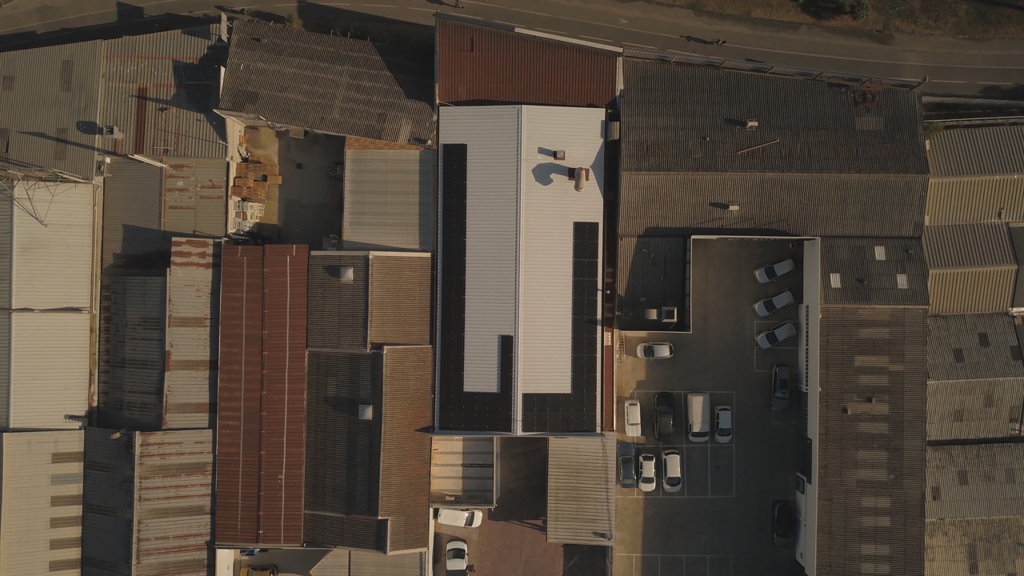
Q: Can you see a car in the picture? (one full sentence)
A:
Yes, the photo shows a car.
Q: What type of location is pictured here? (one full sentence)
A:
This image shows an industrial area.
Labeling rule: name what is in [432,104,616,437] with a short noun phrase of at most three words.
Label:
warehouse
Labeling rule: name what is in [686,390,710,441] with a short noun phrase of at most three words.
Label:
vehicle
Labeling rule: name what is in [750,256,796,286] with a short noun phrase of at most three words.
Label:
car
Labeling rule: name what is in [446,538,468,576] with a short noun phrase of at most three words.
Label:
truck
